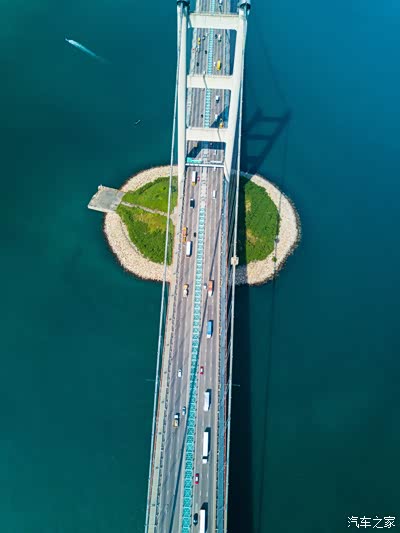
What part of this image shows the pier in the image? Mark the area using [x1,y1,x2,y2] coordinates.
[89,183,124,212]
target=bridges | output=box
[145,0,251,533]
